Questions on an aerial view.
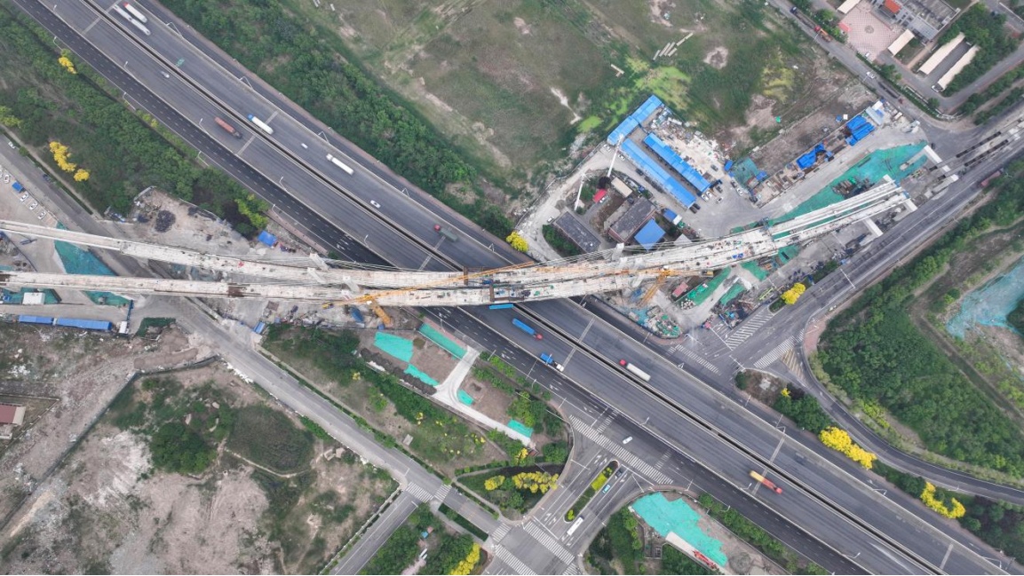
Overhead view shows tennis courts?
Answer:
No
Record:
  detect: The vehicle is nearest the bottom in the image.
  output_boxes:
[566,515,585,535]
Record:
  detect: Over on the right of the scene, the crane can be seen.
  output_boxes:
[536,264,714,313]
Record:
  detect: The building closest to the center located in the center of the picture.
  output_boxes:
[553,211,601,257]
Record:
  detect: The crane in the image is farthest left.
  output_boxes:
[324,258,533,331]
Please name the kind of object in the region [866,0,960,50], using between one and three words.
building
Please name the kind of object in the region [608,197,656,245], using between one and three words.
building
